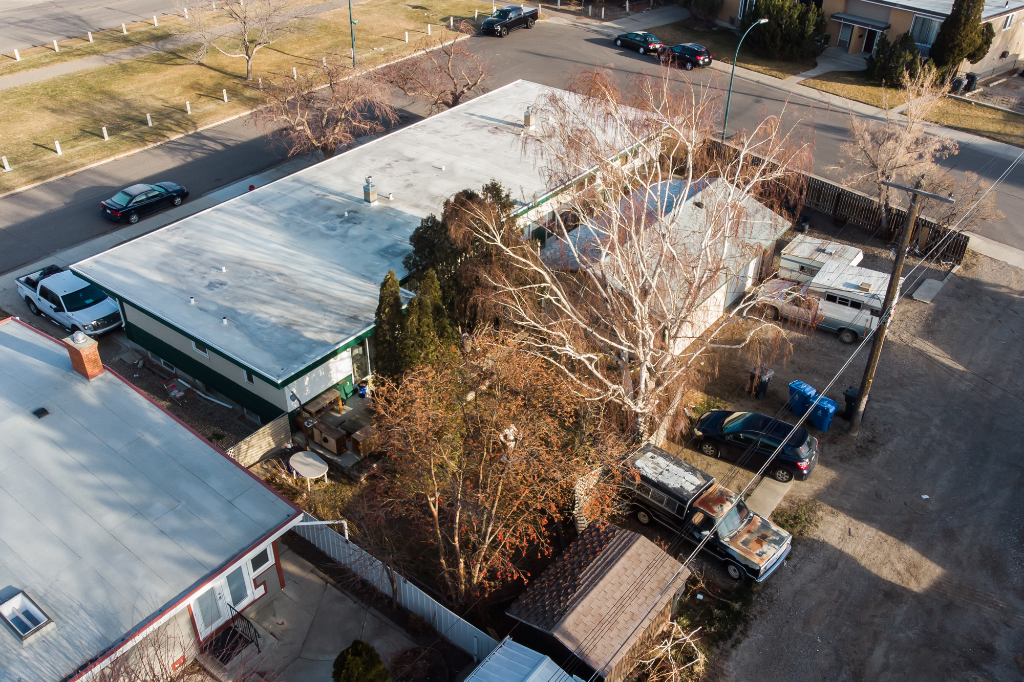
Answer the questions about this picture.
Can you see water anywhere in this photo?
No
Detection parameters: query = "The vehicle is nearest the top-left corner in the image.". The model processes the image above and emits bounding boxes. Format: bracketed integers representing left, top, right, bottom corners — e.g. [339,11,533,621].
[93,178,191,222]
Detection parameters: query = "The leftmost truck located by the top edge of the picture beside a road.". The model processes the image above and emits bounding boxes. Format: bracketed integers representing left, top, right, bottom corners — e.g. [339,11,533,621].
[477,3,537,37]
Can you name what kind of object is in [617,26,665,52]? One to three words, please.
car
